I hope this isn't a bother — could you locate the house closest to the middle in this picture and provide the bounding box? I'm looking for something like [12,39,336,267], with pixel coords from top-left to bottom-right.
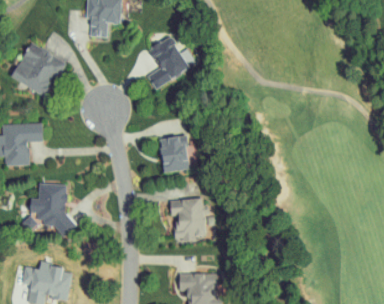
[160,136,190,174]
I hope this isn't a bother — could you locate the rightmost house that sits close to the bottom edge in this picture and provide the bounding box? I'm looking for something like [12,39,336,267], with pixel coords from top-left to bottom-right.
[180,272,224,304]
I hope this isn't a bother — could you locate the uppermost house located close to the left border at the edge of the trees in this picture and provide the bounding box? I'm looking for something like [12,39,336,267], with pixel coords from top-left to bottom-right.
[11,42,68,98]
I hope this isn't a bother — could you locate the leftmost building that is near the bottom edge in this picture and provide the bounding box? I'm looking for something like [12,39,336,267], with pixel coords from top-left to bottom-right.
[22,260,72,304]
